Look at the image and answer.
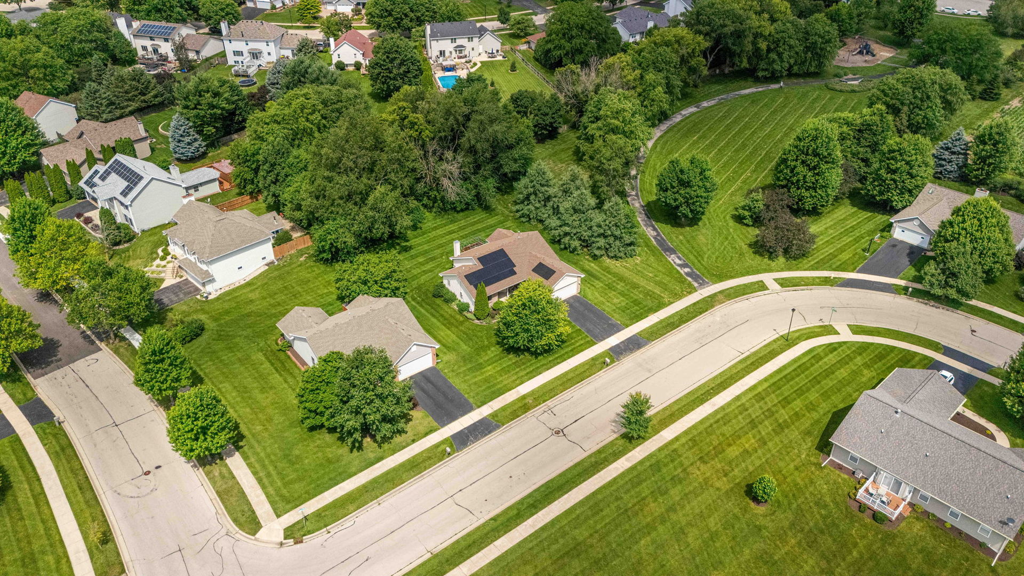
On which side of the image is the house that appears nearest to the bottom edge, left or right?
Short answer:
right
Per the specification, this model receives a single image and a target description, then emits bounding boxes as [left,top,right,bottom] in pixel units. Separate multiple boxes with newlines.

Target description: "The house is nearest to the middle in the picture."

[440,228,586,313]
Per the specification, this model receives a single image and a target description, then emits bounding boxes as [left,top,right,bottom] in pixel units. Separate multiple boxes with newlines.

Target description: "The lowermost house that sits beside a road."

[823,367,1024,564]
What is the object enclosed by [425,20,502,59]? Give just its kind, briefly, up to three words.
house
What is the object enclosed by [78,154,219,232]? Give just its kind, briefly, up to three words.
house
